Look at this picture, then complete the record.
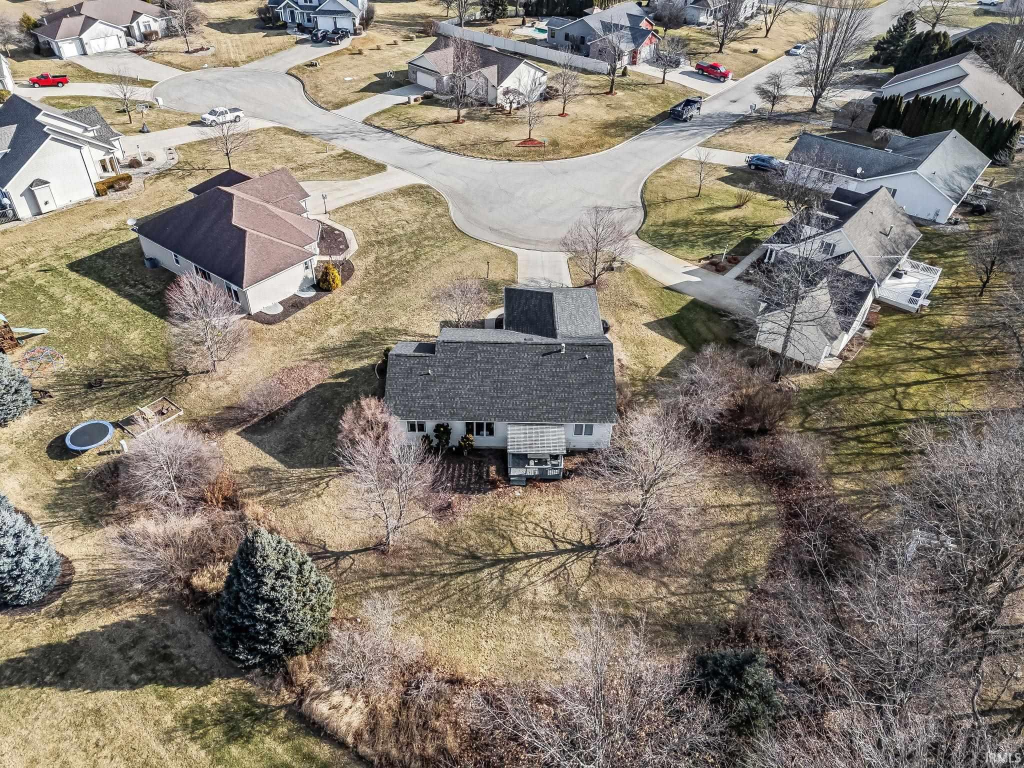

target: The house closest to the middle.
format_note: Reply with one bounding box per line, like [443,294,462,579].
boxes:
[383,286,617,448]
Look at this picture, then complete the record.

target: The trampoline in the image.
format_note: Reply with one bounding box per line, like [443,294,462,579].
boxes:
[64,419,121,463]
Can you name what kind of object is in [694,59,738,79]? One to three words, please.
vehicle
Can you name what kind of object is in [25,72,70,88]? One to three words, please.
vehicle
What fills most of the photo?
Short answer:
grass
